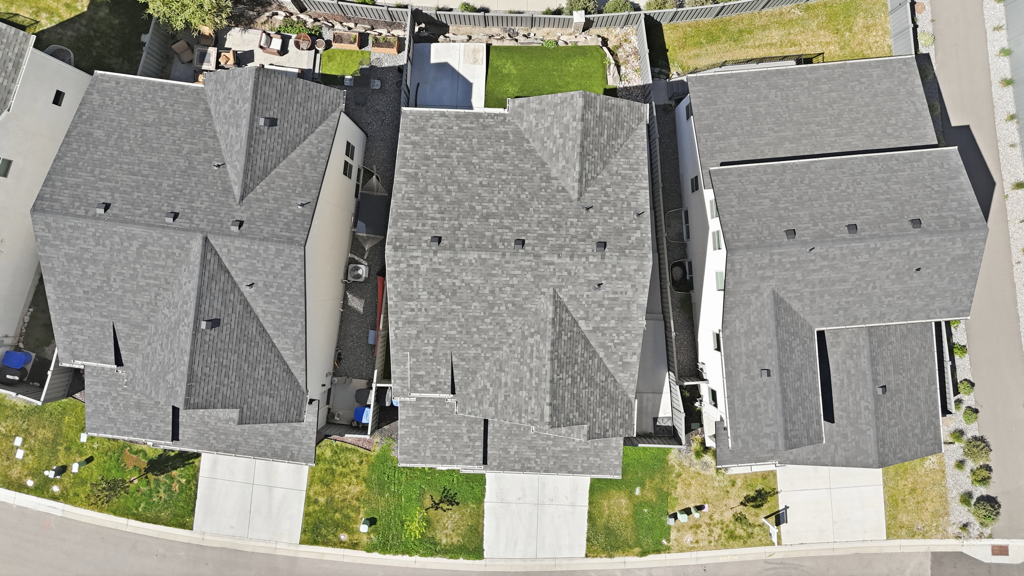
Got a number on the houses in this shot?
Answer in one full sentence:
There are 3 houses in the image.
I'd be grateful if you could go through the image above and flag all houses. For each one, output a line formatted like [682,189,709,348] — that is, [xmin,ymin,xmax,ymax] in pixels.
[676,52,990,469]
[37,66,365,471]
[388,91,655,480]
